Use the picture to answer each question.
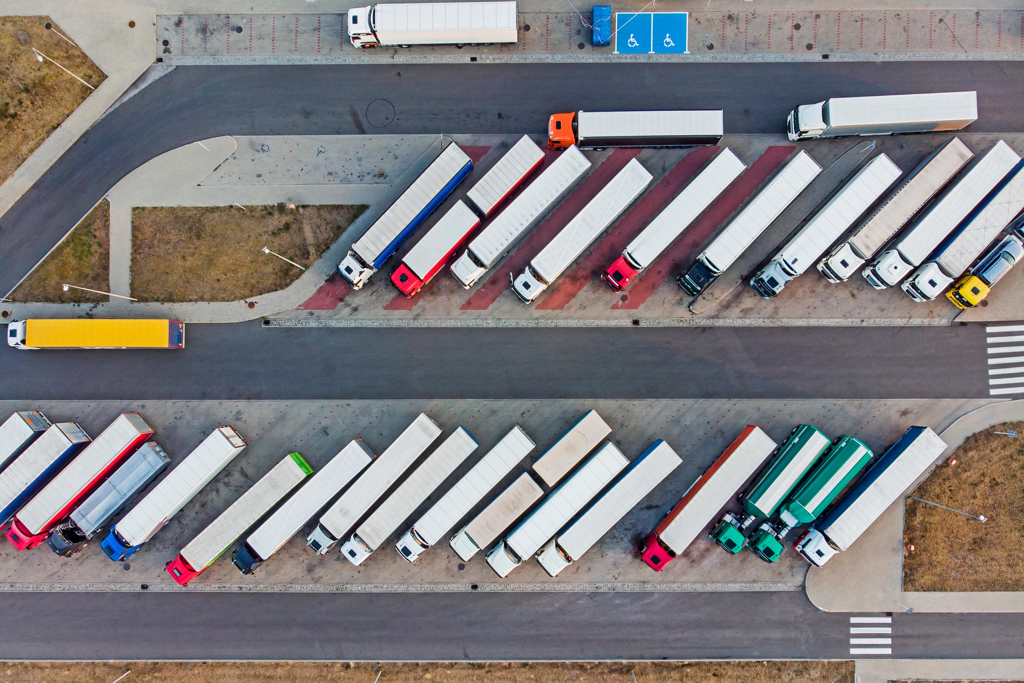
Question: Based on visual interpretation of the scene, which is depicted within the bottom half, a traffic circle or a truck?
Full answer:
It is a truck that can be seen within the bottom half.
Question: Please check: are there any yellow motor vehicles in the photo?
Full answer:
Yes, the image includes a yellow motor vehicle.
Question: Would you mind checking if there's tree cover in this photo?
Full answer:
No, the scene doesn't show any tree cover.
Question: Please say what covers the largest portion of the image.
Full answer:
What you mostly see from above here is paved ground.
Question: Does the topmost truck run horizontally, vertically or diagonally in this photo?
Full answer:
In this picture, the topmost truck lies horizontally.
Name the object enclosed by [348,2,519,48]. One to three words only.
truck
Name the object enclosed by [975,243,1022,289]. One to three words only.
car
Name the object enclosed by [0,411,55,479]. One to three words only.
truck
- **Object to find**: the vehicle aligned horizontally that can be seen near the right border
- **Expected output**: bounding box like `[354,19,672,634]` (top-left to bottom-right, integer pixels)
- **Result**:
[786,92,978,139]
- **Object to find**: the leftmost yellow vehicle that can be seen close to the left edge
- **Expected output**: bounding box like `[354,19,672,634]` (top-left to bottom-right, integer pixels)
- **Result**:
[7,319,187,350]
